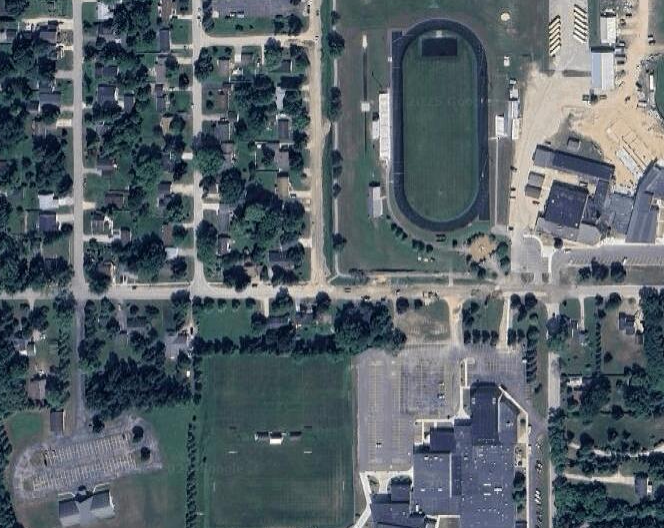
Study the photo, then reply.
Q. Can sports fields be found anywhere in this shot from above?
Yes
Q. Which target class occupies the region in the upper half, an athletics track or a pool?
athletics track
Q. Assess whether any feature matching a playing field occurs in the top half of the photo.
Yes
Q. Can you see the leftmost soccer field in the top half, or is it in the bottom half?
bottom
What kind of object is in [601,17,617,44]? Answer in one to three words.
barn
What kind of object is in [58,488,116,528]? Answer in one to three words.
building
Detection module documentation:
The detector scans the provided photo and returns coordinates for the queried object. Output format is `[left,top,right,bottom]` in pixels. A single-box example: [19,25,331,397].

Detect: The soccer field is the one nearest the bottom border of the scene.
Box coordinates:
[214,366,350,528]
